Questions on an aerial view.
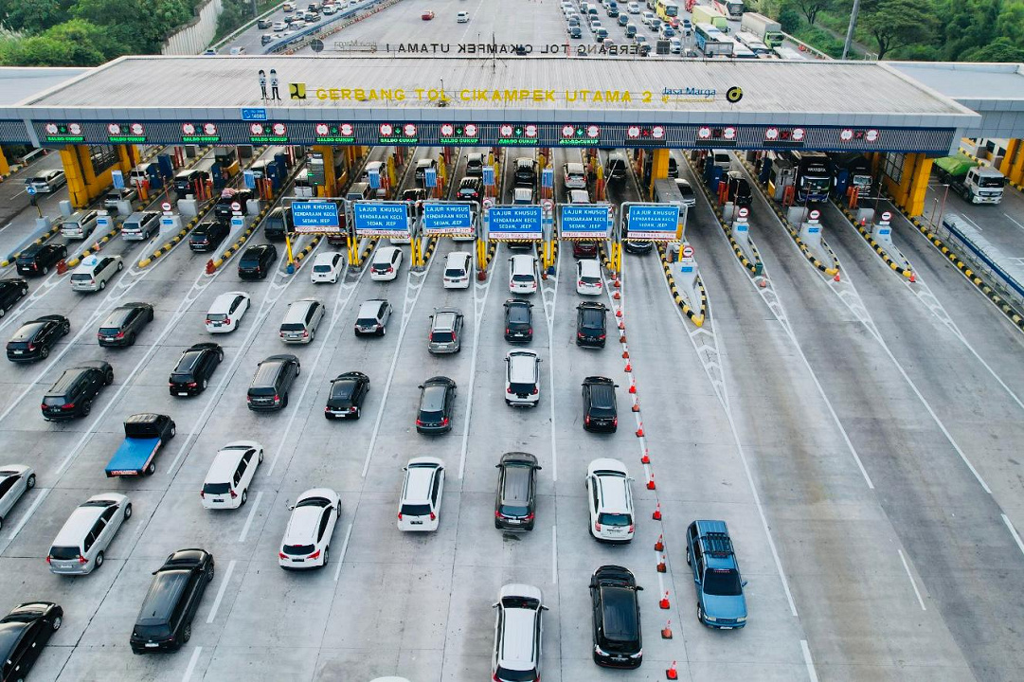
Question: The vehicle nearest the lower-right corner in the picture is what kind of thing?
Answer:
automobile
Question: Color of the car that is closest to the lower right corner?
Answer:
blue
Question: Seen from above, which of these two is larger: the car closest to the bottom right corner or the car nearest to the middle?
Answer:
the car closest to the bottom right corner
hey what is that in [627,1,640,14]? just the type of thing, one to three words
vehicle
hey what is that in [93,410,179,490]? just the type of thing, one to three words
truck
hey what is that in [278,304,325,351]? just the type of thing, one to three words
car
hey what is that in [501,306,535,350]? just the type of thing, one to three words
car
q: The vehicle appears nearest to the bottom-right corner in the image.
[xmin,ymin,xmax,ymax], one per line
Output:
[684,521,751,637]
